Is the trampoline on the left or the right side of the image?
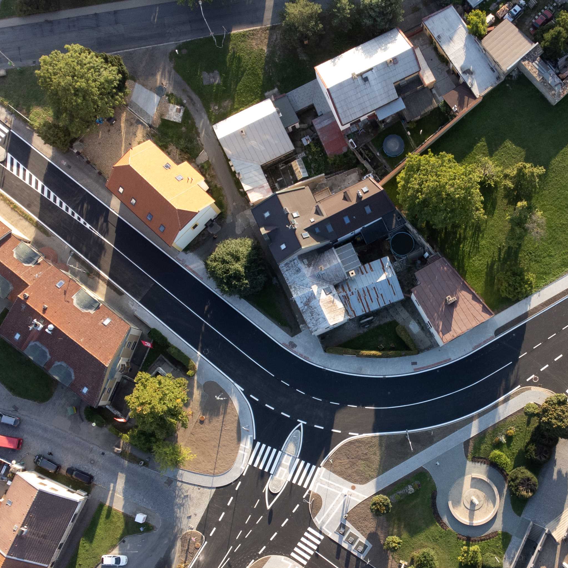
right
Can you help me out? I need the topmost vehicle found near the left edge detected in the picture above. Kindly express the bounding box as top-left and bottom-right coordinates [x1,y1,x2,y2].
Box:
[0,411,21,426]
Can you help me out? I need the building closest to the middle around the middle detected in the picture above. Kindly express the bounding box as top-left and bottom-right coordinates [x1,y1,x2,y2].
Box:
[279,247,349,335]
